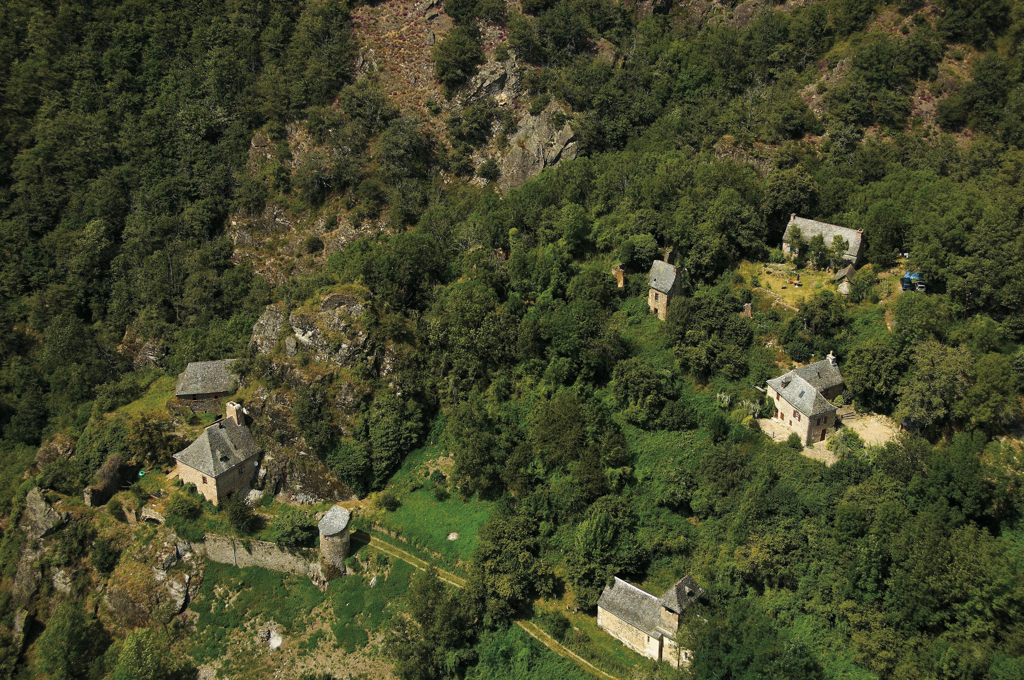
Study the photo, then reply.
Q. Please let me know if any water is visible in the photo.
No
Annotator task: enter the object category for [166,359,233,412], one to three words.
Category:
barn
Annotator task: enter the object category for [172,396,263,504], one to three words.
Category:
house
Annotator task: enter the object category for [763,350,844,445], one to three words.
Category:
house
